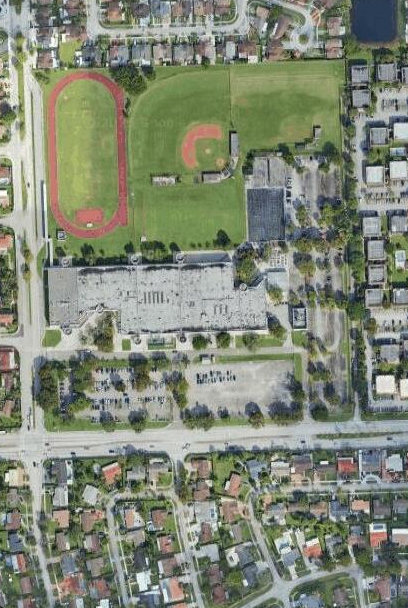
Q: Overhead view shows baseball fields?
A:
Yes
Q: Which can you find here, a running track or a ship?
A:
running track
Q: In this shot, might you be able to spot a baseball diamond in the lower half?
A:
No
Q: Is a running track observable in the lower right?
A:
No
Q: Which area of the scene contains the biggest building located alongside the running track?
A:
center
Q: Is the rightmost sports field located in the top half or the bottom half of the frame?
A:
top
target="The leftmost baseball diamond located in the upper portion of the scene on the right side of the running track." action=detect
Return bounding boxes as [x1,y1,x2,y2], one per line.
[132,69,242,186]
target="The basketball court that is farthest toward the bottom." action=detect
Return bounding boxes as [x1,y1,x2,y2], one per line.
[247,187,286,242]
